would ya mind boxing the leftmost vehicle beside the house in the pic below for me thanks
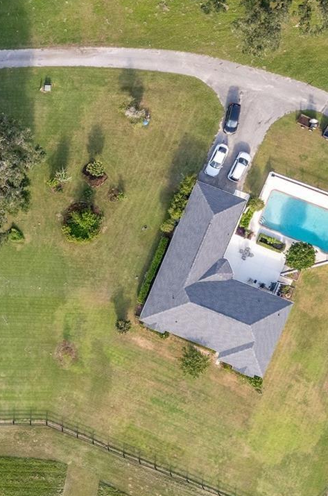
[204,142,228,177]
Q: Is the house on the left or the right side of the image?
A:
right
